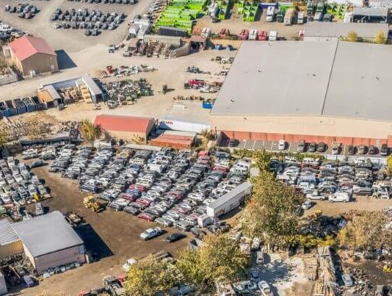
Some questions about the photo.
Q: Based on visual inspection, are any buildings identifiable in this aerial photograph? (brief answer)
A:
Yes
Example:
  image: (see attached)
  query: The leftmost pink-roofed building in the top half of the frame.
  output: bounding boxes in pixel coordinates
[7,34,58,75]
